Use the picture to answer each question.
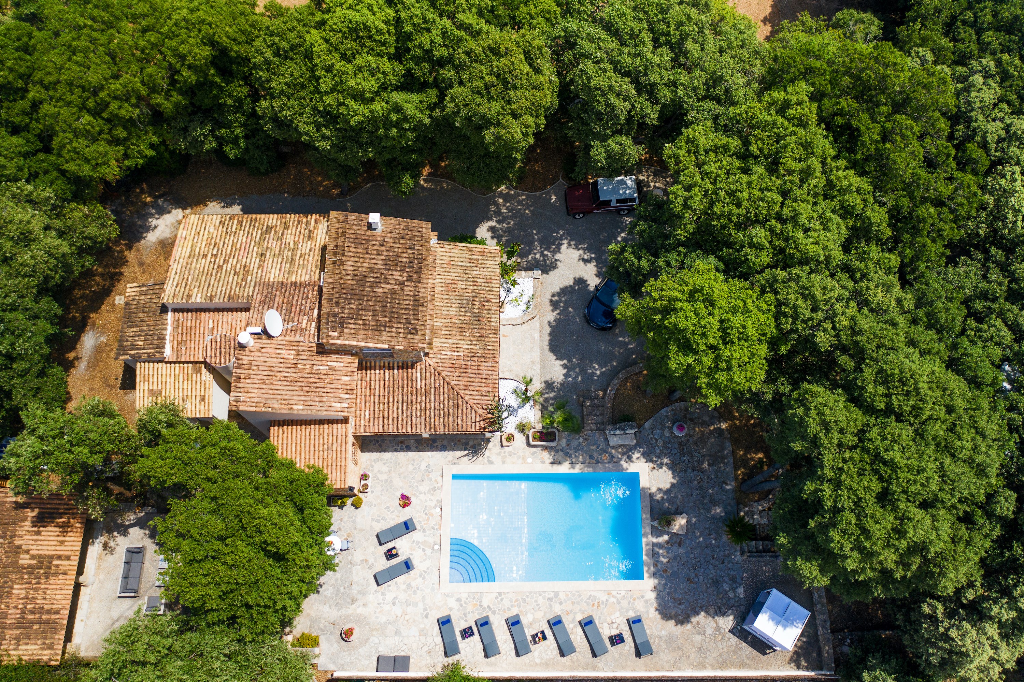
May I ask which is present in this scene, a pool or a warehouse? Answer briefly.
pool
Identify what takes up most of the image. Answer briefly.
trees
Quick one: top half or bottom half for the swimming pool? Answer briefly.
bottom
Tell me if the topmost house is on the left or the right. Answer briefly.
left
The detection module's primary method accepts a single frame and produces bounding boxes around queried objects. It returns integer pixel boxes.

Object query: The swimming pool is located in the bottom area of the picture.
[439,463,654,593]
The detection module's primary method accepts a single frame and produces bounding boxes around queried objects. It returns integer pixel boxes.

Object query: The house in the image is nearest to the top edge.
[114,212,501,496]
